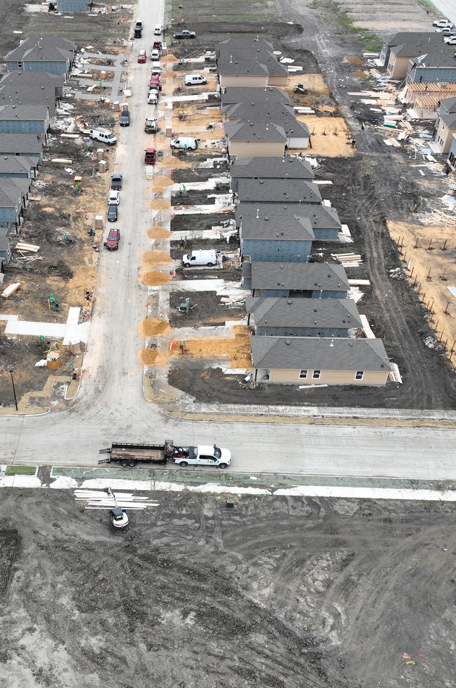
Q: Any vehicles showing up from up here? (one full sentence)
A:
Yes, there is a vehicle in the image.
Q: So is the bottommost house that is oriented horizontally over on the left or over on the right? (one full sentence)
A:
The bottommost house that is oriented horizontally appears in the right half of the scene.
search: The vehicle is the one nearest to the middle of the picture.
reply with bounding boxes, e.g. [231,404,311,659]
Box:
[183,248,227,267]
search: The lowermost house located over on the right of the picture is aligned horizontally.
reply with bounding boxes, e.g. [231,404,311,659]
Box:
[249,334,392,387]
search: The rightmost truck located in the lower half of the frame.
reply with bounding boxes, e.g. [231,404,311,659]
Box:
[170,444,231,468]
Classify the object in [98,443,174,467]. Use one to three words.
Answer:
trailer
